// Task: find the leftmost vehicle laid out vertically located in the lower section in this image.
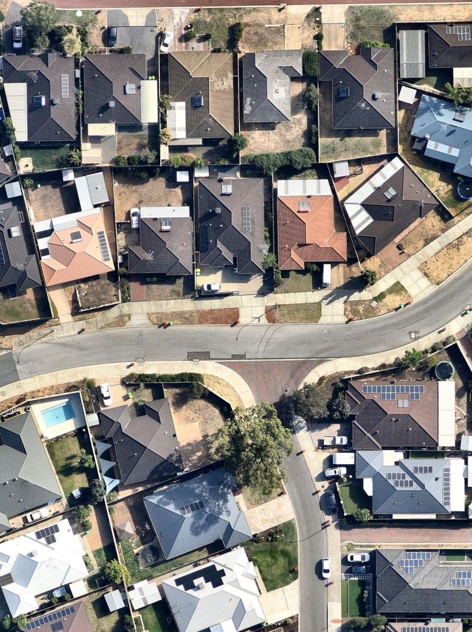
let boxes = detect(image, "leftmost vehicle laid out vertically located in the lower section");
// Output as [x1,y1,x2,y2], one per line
[99,382,111,406]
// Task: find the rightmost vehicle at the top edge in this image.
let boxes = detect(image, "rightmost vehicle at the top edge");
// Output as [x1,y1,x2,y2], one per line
[160,31,173,52]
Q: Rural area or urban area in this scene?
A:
urban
